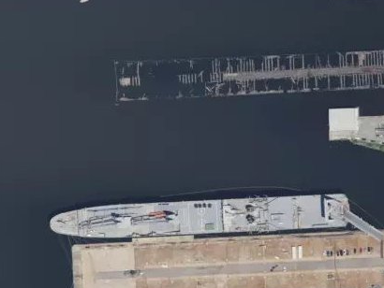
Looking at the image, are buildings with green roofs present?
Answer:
No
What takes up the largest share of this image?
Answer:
water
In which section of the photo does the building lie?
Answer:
right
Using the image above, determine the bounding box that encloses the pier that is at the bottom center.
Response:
[74,230,384,288]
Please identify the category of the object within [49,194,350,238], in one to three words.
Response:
ship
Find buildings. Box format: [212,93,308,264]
[329,108,362,133]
